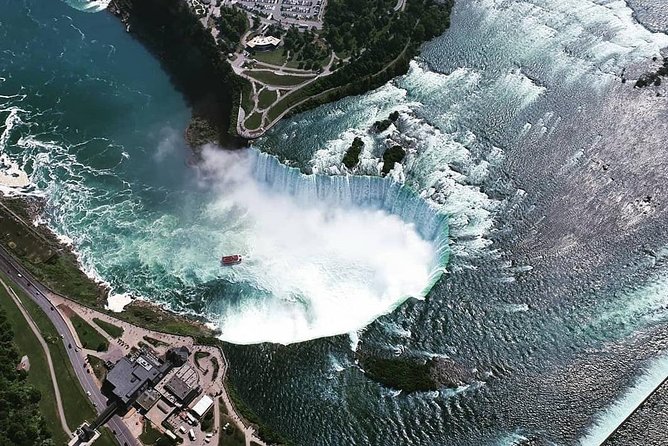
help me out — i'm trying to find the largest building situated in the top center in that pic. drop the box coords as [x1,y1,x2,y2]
[247,36,281,50]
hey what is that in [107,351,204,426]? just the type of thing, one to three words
building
